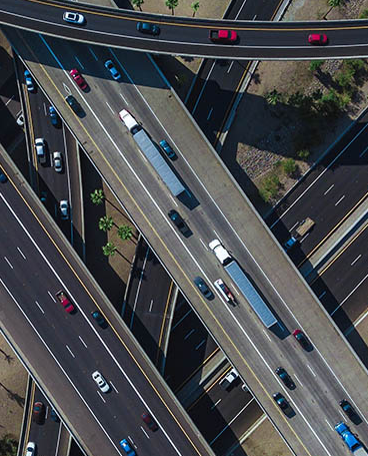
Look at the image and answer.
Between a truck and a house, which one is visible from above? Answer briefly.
truck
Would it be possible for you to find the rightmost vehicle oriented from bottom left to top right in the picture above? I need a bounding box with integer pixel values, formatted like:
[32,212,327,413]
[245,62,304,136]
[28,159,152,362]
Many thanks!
[284,216,315,247]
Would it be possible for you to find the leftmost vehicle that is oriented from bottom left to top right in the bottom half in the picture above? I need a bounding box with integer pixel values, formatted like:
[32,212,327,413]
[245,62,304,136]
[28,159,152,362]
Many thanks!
[218,367,238,388]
